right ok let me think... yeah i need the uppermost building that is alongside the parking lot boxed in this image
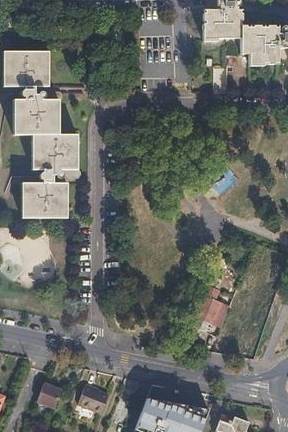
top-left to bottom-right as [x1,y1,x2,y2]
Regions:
[202,0,244,42]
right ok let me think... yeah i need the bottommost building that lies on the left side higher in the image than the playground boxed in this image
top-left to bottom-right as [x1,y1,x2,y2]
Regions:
[22,170,70,218]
